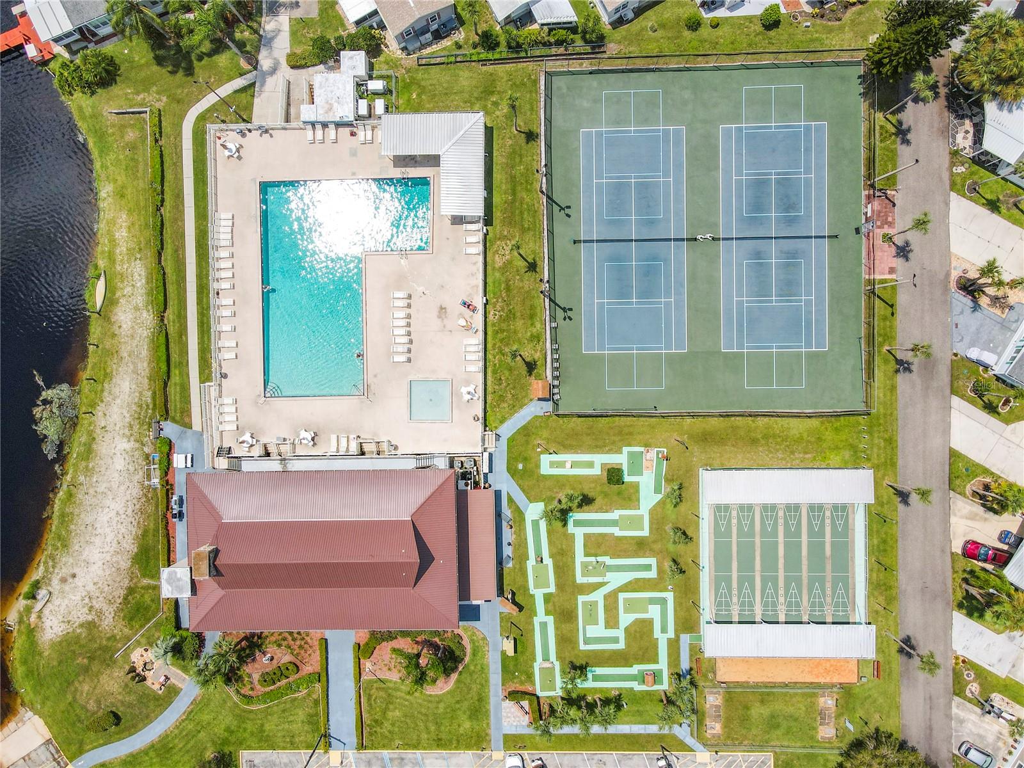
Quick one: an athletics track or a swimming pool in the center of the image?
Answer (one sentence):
The feature located in the center of the image is a swimming pool.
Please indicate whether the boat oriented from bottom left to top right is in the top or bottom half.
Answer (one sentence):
The boat oriented from bottom left to top right sits in the bottom half of the picture.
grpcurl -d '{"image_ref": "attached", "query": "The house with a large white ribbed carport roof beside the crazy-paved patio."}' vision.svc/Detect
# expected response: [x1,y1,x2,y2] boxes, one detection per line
[968,95,1024,195]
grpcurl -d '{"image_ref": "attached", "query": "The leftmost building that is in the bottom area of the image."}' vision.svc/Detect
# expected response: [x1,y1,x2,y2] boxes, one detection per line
[186,468,497,633]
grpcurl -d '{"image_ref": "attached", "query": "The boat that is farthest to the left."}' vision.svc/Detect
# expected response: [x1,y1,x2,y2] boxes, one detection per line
[31,588,51,613]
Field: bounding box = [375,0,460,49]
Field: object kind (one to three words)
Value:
house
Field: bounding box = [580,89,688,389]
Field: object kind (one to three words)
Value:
tennis court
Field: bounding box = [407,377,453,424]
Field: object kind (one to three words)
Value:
swimming pool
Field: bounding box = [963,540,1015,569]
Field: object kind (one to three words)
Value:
truck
